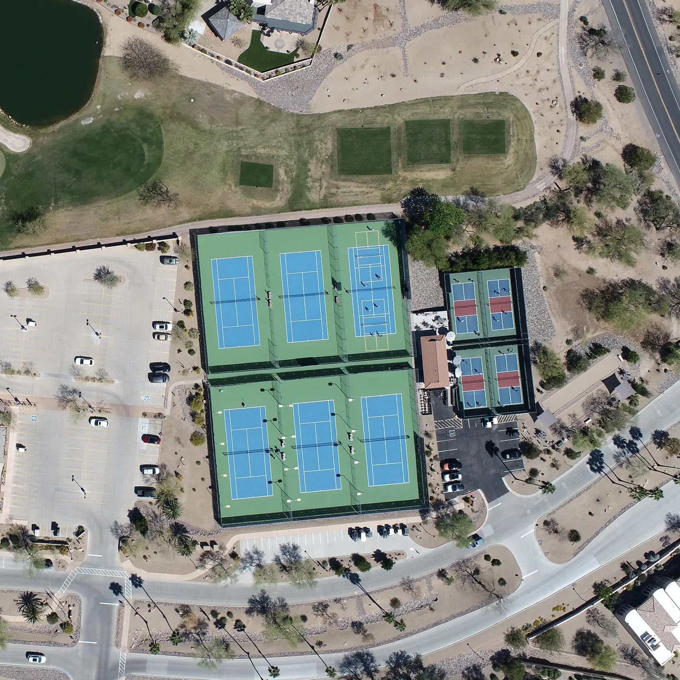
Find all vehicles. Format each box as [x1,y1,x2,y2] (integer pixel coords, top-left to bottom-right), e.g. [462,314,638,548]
[35,527,41,537]
[440,460,459,470]
[18,446,27,452]
[379,528,387,538]
[27,654,47,663]
[482,418,490,427]
[154,333,172,341]
[358,531,366,540]
[154,322,173,330]
[401,526,409,536]
[29,321,37,327]
[501,428,520,438]
[365,528,372,538]
[75,357,94,366]
[500,450,520,459]
[489,416,497,425]
[150,364,169,372]
[91,419,109,427]
[161,255,180,265]
[395,526,402,537]
[135,488,156,499]
[350,531,358,542]
[444,482,463,490]
[441,471,460,481]
[465,534,484,549]
[149,375,168,383]
[387,526,394,537]
[141,466,159,476]
[142,434,160,444]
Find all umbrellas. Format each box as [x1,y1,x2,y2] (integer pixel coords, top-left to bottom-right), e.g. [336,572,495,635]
[445,330,456,342]
[452,369,464,379]
[452,356,463,367]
